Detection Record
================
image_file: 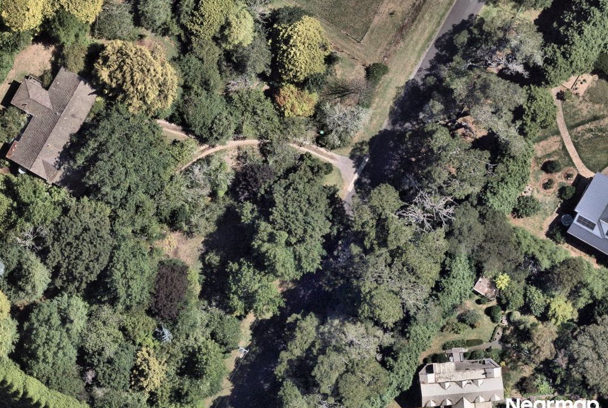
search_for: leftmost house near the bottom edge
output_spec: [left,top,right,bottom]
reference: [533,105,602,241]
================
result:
[420,348,504,408]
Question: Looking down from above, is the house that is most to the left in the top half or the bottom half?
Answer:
top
